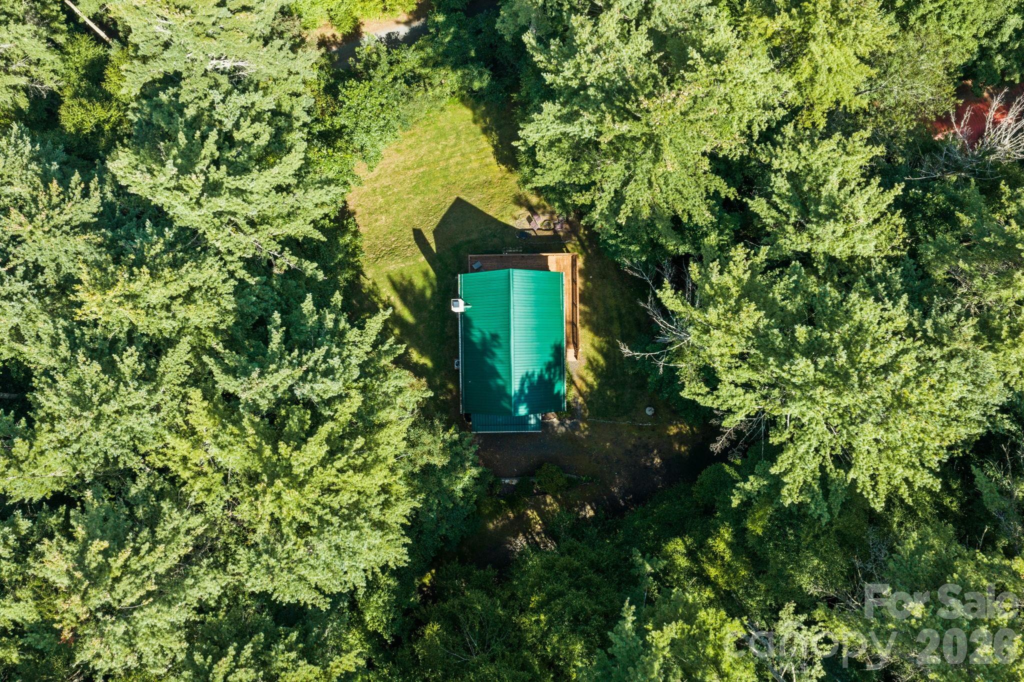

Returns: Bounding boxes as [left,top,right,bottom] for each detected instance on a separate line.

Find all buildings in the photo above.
[451,270,568,434]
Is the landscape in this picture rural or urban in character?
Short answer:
rural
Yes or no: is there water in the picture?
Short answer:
No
